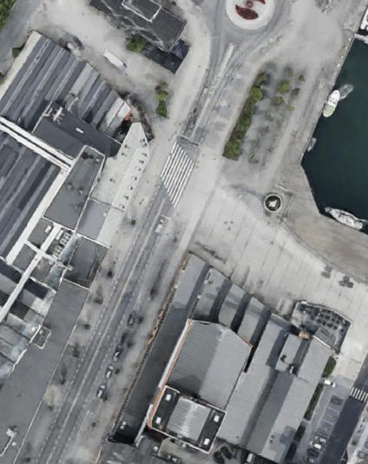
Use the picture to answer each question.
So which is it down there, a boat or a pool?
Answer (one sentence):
Of the two, only a boat appears.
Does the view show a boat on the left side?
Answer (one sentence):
No, on the left side there is no boat.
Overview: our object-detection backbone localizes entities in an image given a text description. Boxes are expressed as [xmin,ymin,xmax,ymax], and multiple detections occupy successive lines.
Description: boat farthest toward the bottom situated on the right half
[326,207,365,230]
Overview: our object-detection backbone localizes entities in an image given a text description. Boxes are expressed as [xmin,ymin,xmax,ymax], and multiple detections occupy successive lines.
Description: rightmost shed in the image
[223,312,332,454]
